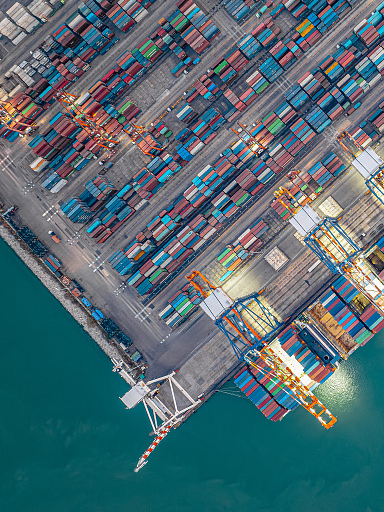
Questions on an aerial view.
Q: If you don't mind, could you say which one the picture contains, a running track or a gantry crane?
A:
gantry crane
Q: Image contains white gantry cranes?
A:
Yes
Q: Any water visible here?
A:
Yes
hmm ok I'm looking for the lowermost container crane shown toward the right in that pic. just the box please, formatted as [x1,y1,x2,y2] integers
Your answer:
[184,270,340,435]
